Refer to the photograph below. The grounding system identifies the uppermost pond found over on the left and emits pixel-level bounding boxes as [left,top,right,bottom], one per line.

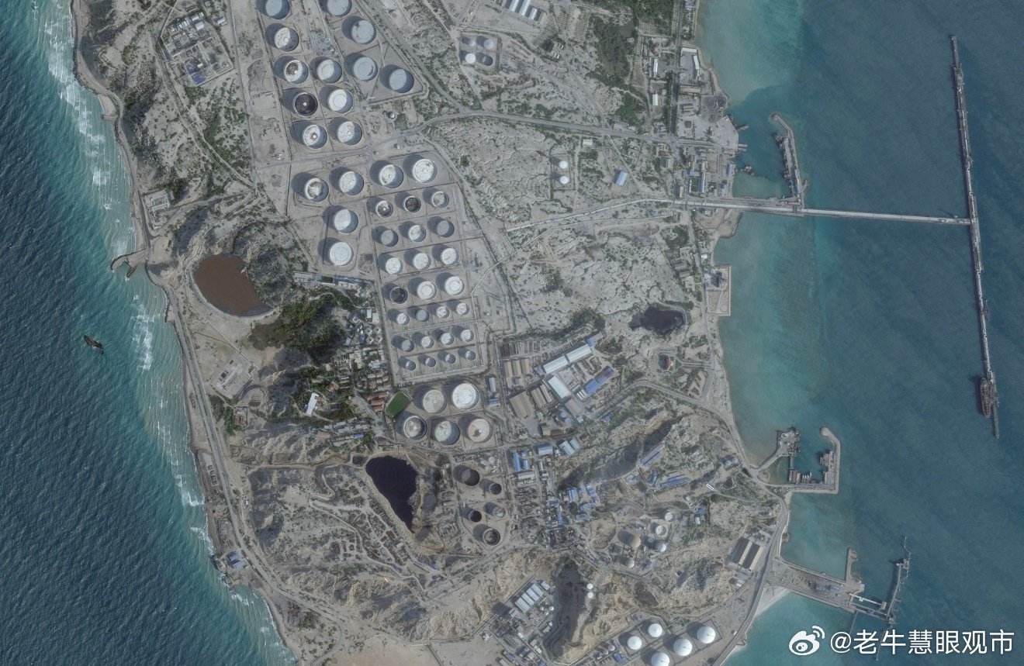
[194,255,271,316]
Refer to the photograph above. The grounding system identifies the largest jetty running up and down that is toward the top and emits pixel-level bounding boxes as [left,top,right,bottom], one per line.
[804,36,1001,437]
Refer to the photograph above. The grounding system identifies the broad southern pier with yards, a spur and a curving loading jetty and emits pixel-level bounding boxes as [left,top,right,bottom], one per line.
[780,538,911,666]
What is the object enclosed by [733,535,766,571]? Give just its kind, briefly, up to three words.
building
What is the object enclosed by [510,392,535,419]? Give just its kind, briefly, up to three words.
building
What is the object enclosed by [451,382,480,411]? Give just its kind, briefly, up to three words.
storage tank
